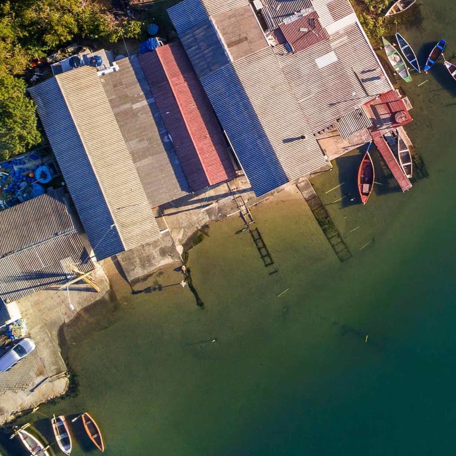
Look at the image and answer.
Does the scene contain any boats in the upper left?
No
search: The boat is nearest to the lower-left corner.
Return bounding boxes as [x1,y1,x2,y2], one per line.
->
[19,429,50,456]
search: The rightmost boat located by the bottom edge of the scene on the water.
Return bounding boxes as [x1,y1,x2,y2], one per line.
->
[82,412,105,452]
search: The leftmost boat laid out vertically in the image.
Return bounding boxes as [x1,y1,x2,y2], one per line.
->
[52,415,72,455]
